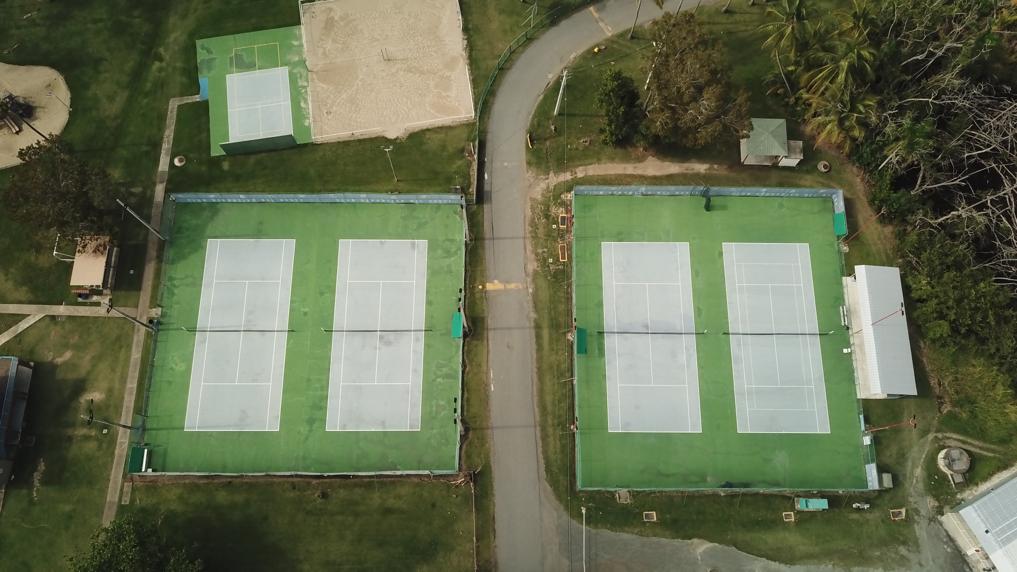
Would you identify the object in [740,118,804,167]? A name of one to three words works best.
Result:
building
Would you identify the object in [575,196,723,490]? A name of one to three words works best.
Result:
tennis court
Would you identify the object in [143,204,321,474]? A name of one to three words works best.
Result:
tennis court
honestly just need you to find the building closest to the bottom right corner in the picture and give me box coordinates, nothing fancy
[922,464,1017,572]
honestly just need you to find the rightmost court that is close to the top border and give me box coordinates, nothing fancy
[301,0,475,142]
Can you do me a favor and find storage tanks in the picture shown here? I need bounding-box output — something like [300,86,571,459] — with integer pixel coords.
[939,446,973,490]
